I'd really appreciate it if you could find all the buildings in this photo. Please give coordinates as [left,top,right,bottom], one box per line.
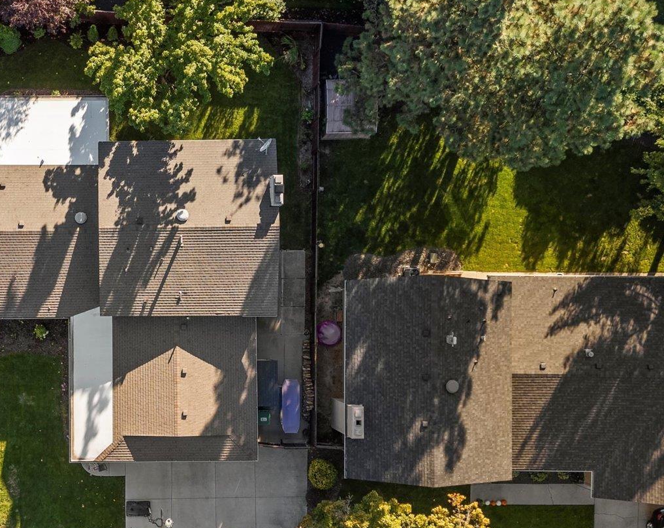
[0,96,285,465]
[329,274,664,501]
[320,81,377,142]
